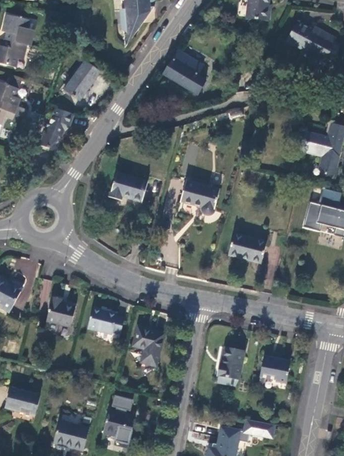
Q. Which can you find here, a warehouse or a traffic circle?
traffic circle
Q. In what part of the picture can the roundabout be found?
left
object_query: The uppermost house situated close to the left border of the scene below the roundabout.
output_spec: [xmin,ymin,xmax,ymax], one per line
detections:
[0,279,24,312]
